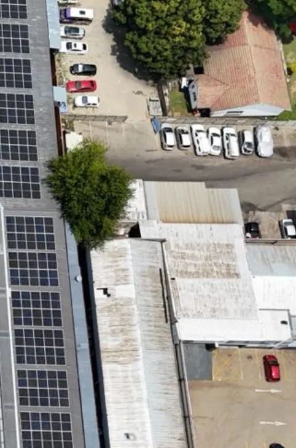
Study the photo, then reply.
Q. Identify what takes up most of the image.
buildings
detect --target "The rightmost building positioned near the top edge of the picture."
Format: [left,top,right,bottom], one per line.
[196,10,289,115]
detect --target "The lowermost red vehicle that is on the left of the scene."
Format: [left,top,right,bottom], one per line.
[67,78,99,92]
